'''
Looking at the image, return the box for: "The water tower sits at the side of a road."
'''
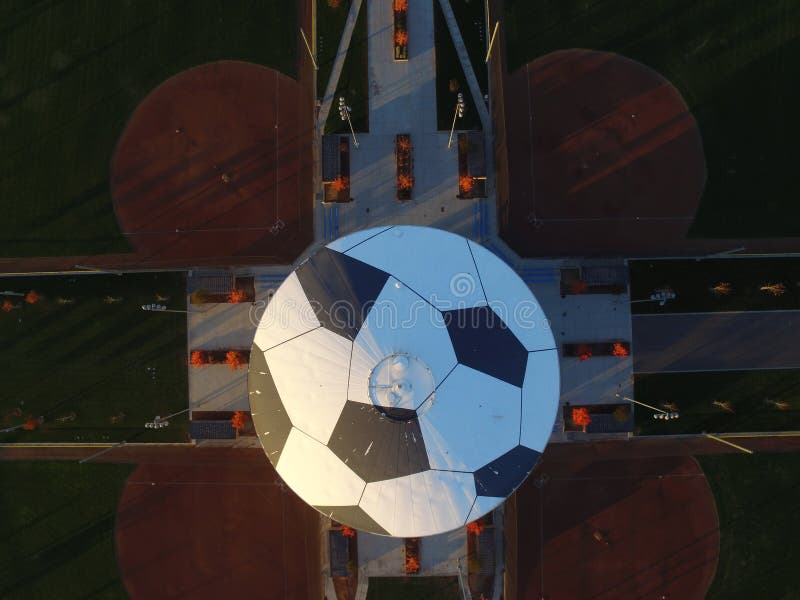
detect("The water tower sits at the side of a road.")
[249,225,562,538]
